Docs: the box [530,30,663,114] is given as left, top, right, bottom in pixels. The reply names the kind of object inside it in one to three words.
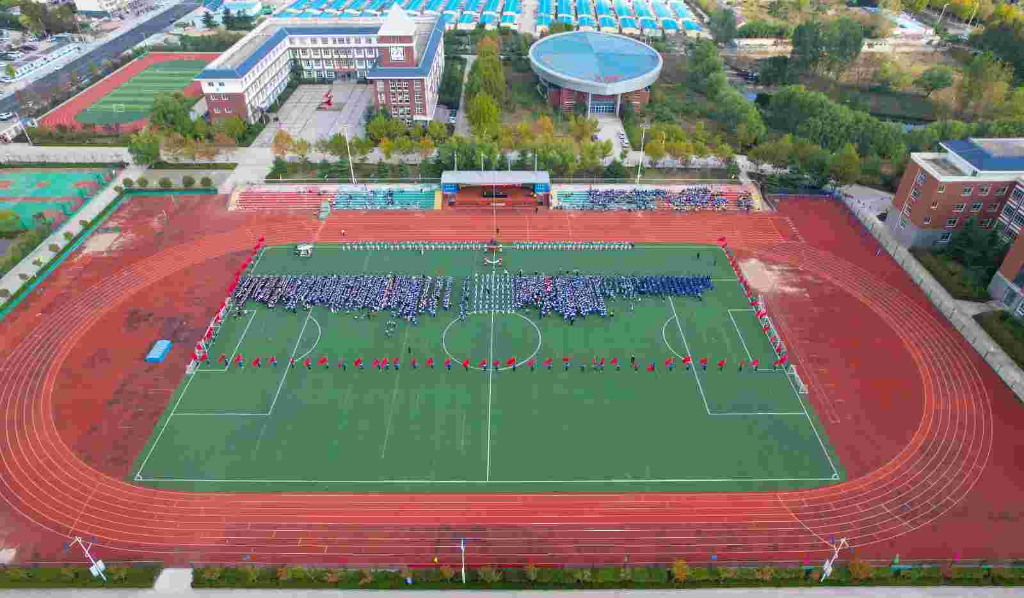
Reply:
building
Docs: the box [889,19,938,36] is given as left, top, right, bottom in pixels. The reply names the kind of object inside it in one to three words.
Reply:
building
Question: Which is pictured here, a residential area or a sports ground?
sports ground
